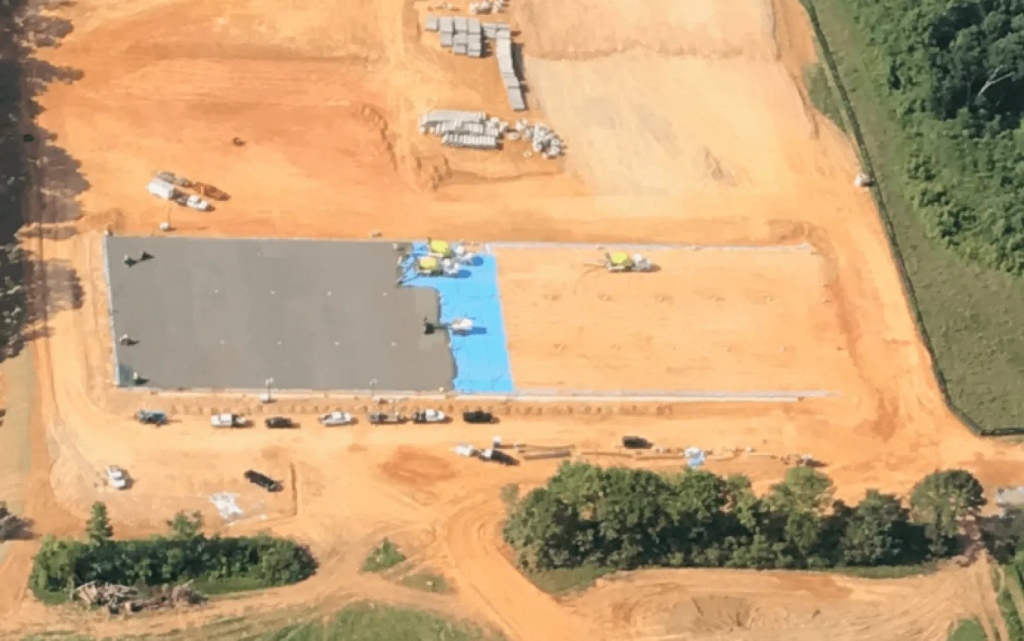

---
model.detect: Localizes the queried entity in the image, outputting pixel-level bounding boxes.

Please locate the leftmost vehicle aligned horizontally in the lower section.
[130,409,167,427]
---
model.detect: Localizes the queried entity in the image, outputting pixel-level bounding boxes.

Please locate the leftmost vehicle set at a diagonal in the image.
[105,464,128,491]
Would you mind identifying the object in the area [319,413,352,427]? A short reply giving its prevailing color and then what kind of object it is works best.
white vehicle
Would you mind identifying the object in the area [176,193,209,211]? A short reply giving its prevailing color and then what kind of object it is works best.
white vehicle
